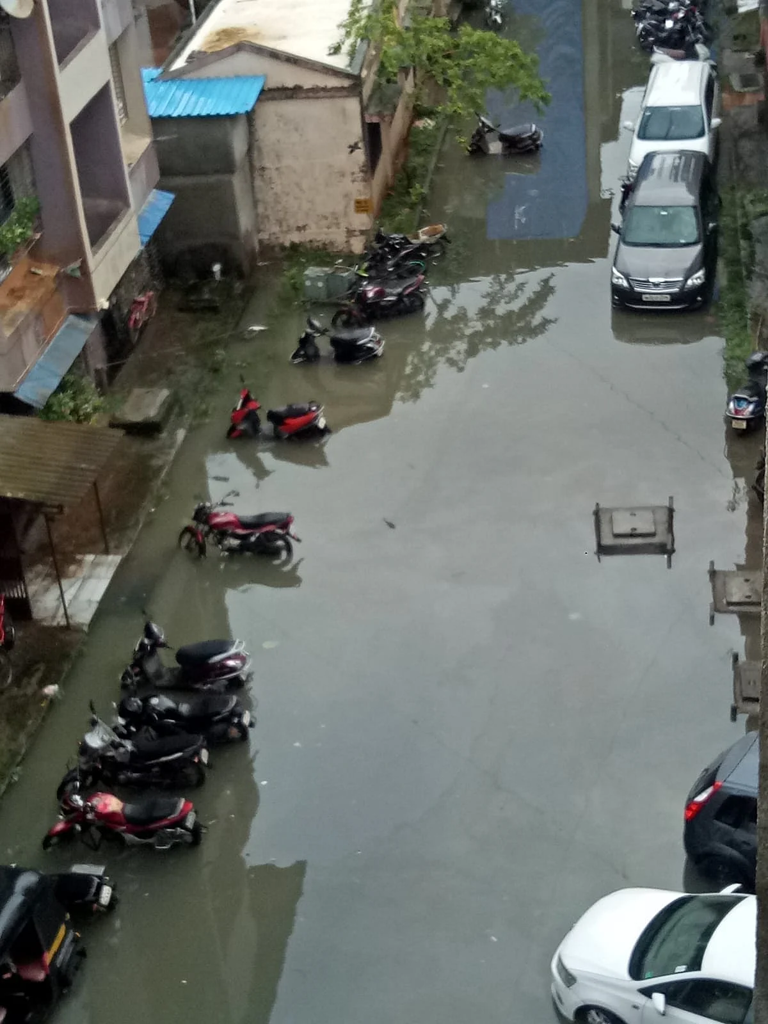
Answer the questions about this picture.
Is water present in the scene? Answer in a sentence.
Yes, water can be seen from above here.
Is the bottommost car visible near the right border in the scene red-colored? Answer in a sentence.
No, the bottommost car visible near the right border is actually white.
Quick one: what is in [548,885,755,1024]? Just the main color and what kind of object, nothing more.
white car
